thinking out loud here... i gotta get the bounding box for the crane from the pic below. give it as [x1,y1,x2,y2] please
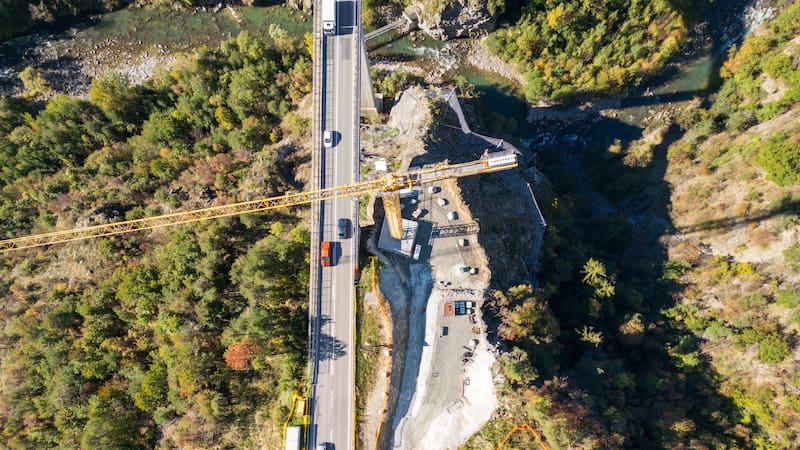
[0,152,520,252]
